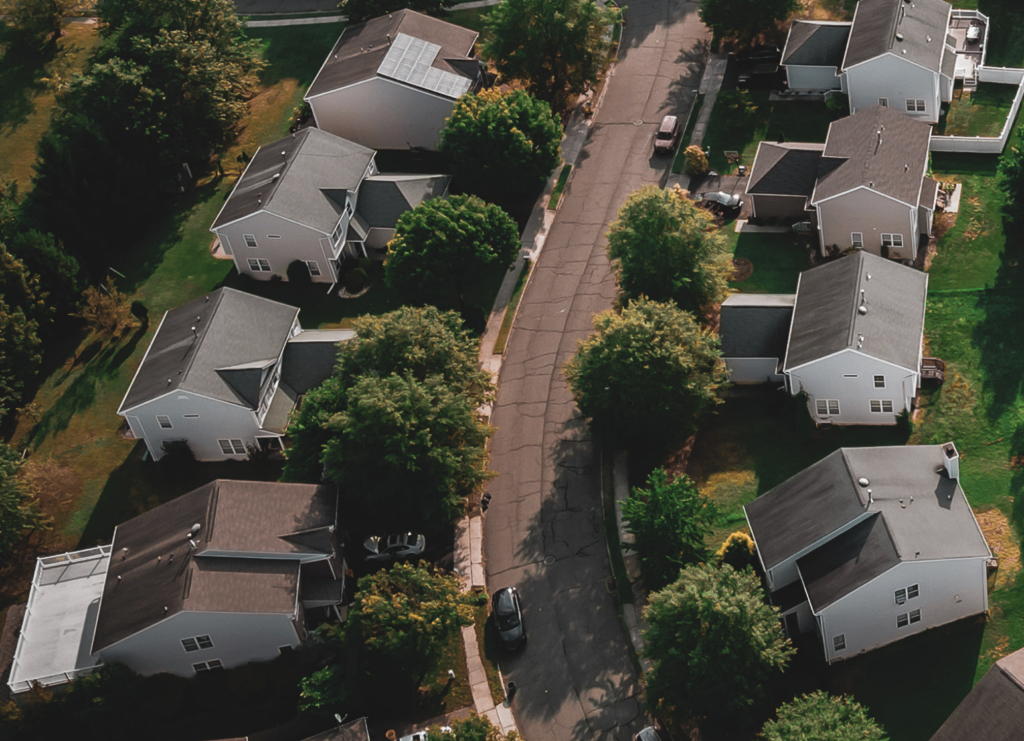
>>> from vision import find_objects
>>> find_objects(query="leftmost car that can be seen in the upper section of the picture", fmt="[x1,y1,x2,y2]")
[651,114,683,158]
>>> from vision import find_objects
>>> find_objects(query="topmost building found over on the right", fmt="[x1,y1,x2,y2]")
[780,0,961,122]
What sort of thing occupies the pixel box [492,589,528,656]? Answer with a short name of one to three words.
car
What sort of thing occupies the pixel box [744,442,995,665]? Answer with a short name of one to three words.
house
